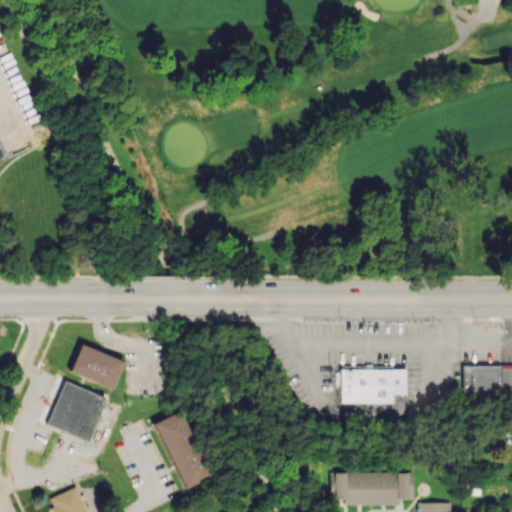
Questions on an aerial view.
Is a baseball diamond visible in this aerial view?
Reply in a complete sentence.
No, no baseball diamond can be seen from above.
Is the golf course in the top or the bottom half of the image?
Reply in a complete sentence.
Seen from above, the golf course lies in the top half of the view.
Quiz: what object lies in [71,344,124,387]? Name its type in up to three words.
building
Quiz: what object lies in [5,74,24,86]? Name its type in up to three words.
vehicle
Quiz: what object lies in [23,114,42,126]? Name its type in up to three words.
vehicle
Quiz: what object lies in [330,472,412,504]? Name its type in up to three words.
house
